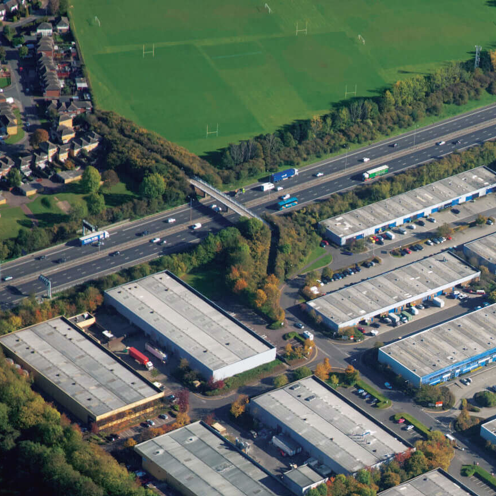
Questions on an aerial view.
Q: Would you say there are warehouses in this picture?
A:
Yes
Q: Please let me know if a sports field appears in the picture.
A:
Yes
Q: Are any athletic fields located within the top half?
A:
Yes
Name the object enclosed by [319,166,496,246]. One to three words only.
building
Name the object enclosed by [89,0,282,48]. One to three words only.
sports field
